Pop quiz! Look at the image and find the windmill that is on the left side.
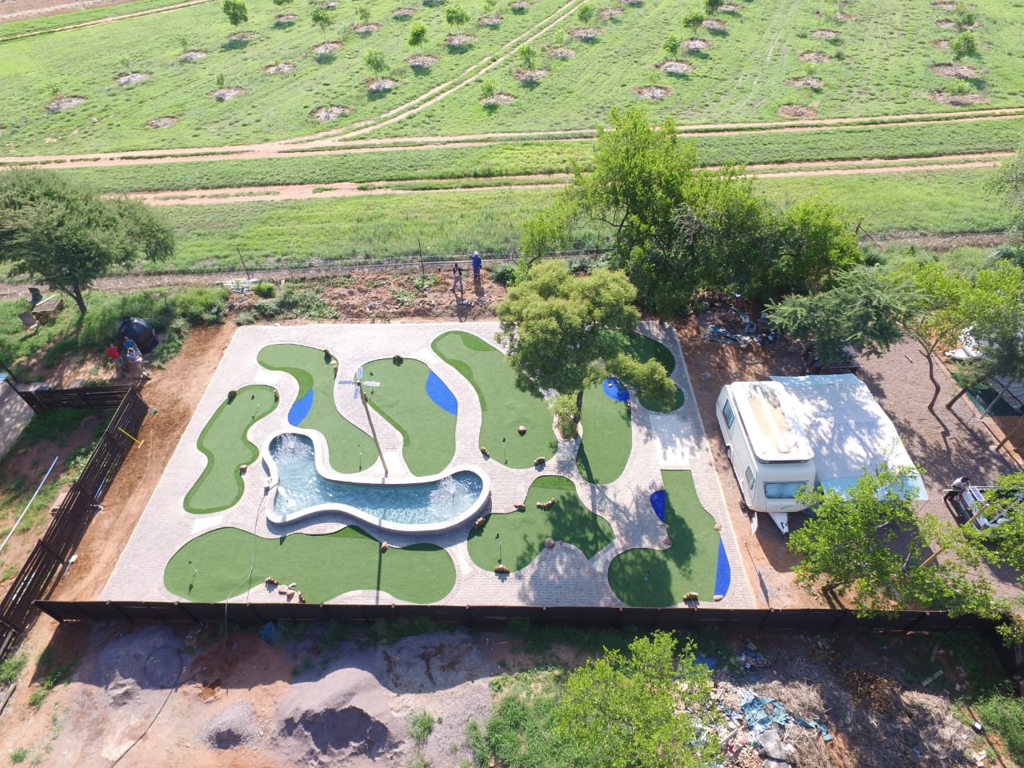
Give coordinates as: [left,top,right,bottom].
[336,369,387,476]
